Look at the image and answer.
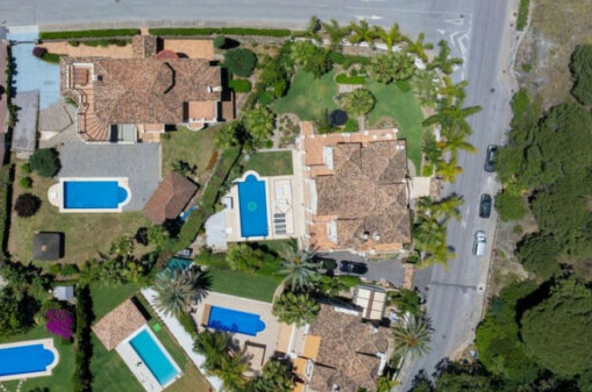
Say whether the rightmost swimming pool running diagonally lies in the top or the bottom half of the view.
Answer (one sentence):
It is in the bottom half that the rightmost swimming pool running diagonally appears.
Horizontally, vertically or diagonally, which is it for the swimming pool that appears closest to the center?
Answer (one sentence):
The swimming pool that appears closest to the center runs vertically in the image.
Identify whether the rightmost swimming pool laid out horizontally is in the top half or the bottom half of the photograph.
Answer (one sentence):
Seen from above, the rightmost swimming pool laid out horizontally lies in the bottom half of the view.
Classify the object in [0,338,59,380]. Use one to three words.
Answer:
swimming pool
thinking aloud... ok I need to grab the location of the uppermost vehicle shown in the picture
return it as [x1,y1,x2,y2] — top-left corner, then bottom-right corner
[482,144,498,172]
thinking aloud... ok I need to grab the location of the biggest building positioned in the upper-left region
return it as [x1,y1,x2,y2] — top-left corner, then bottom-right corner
[60,34,234,144]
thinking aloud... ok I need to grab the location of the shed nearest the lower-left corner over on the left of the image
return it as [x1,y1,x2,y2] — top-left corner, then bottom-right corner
[54,287,73,304]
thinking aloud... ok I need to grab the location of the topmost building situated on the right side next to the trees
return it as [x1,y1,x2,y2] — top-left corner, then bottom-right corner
[299,123,412,256]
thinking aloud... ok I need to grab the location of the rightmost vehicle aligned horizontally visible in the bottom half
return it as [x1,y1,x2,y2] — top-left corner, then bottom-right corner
[340,262,368,275]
